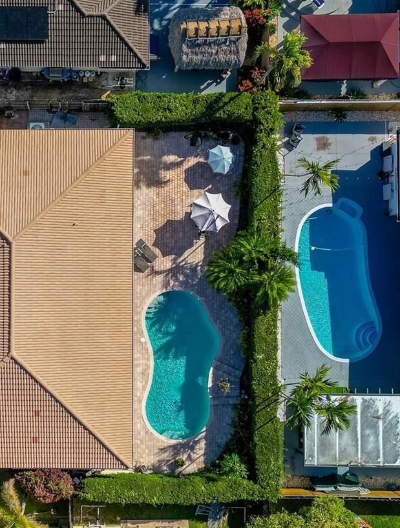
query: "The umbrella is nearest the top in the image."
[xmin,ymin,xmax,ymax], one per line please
[206,147,232,174]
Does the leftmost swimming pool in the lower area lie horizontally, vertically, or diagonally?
vertically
